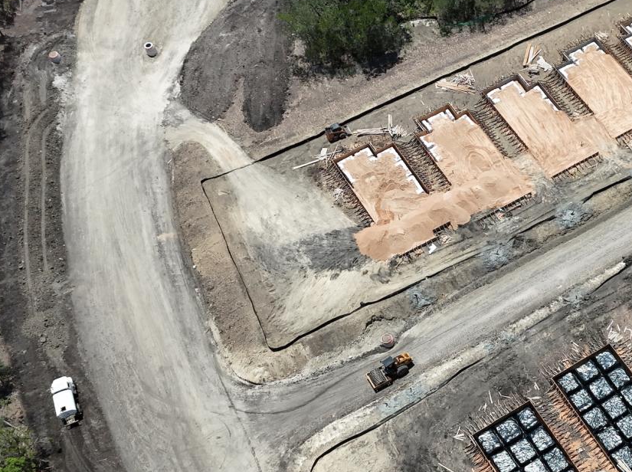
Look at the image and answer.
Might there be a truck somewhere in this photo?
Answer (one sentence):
Yes, a truck appears in the view.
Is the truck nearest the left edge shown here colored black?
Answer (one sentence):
No, the truck nearest the left edge is actually white.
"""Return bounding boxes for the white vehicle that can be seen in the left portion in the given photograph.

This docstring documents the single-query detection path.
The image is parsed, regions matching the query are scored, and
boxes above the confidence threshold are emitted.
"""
[48,374,84,430]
